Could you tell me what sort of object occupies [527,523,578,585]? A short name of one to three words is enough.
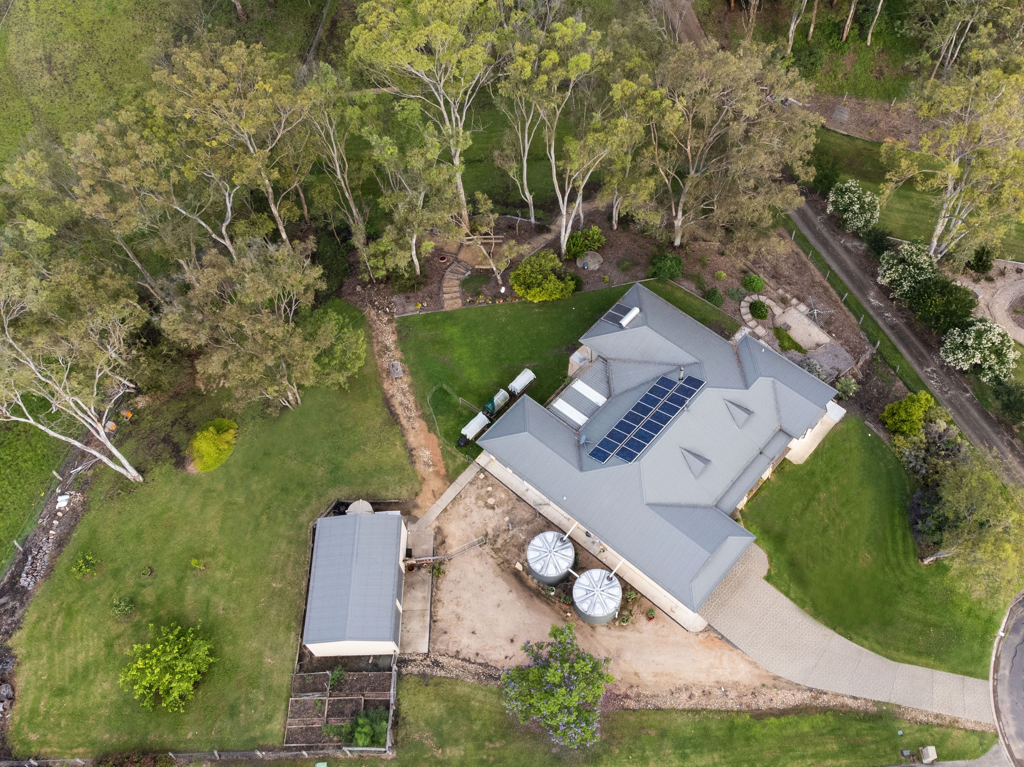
water tank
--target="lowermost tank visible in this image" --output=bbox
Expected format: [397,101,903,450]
[571,560,624,624]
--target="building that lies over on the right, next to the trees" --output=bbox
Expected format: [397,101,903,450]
[475,282,838,616]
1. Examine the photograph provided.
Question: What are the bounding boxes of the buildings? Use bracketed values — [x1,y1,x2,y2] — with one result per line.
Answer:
[475,282,838,616]
[302,512,407,654]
